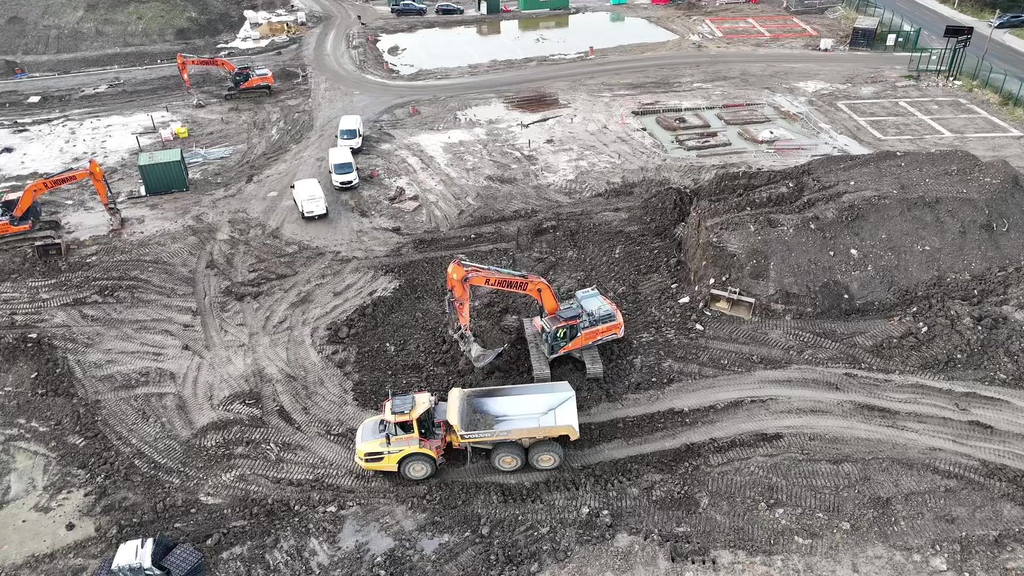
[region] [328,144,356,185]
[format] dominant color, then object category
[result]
white van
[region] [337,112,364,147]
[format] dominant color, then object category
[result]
white vehicle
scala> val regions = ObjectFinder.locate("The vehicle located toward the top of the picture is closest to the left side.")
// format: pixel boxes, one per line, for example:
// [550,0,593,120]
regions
[0,154,117,247]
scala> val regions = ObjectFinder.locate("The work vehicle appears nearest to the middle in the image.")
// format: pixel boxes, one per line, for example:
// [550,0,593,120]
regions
[441,258,620,386]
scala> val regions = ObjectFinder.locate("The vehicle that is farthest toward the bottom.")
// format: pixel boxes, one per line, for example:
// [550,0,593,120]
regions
[356,387,582,483]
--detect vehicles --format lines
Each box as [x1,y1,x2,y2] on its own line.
[392,0,428,15]
[0,154,117,247]
[989,14,1024,27]
[435,2,464,15]
[294,181,330,220]
[337,112,364,147]
[328,144,356,185]
[441,258,620,386]
[356,387,582,483]
[174,49,280,103]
